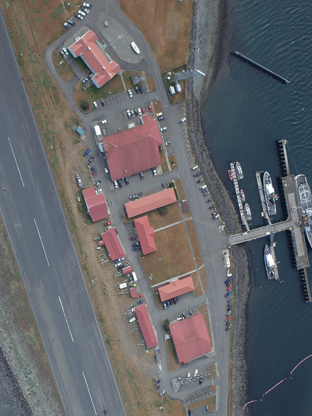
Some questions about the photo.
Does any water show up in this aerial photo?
Yes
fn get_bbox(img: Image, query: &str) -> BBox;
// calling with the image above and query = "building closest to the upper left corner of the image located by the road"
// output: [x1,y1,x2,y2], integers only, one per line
[69,30,121,88]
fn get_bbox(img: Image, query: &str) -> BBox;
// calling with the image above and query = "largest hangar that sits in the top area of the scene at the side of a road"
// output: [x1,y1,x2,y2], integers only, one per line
[100,115,162,181]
